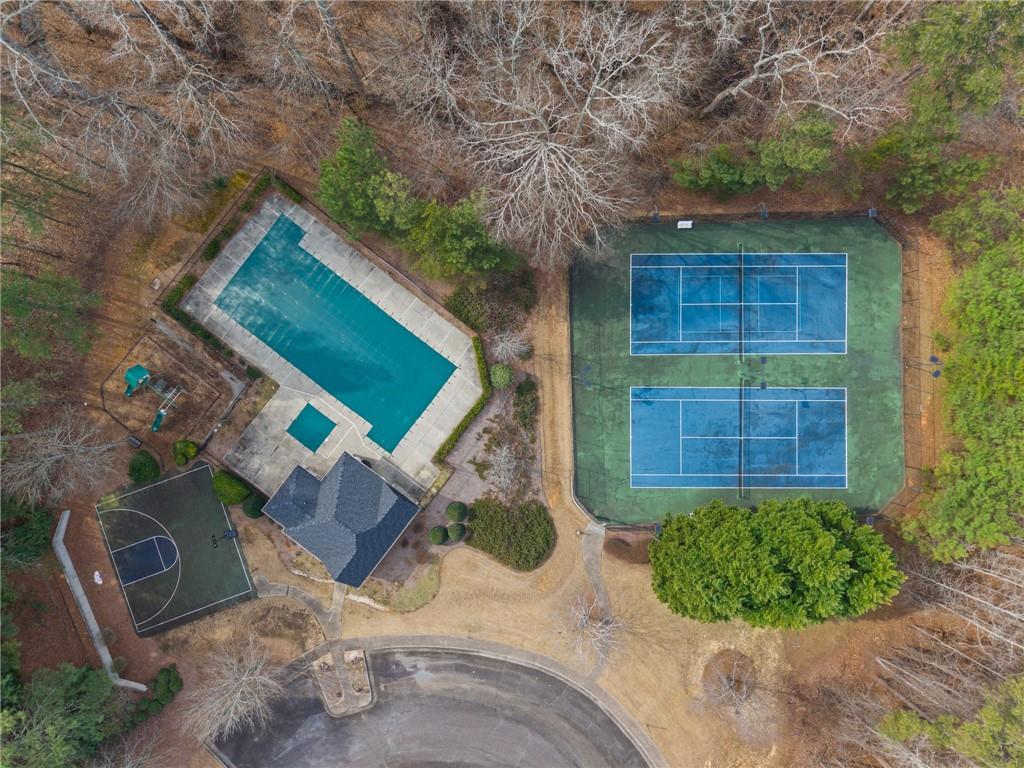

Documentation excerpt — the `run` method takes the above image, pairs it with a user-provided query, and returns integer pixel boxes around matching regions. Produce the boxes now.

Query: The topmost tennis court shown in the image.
[630,253,848,355]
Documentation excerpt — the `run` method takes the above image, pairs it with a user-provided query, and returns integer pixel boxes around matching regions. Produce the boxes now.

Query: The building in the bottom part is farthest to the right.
[258,452,422,587]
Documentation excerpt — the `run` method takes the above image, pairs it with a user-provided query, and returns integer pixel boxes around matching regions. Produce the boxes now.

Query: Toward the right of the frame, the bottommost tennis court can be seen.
[630,387,848,489]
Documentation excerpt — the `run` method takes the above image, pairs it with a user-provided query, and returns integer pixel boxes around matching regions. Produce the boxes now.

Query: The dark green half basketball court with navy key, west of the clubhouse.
[94,460,258,637]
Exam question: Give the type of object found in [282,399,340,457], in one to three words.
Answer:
swimming pool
